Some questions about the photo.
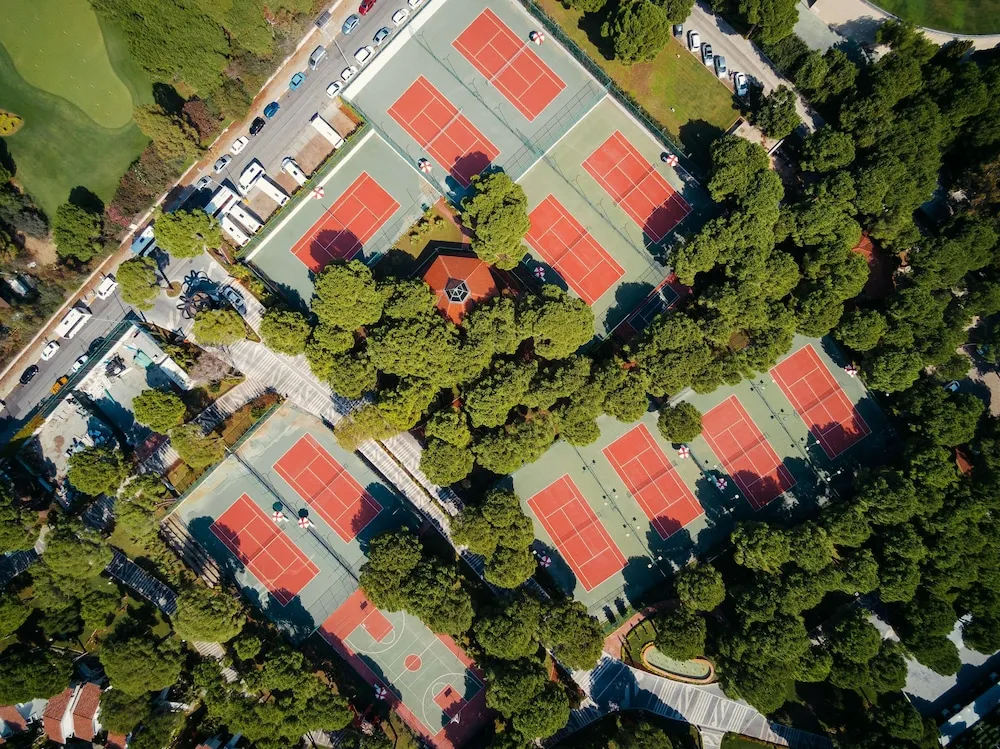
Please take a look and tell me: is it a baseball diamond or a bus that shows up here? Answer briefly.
bus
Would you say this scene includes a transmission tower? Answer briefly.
No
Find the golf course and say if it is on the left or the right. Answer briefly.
left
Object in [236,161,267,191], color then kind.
white van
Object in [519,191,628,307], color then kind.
red tennis court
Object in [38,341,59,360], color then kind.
white car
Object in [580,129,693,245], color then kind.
red tennis court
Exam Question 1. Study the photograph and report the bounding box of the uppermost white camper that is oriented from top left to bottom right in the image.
[309,113,349,152]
